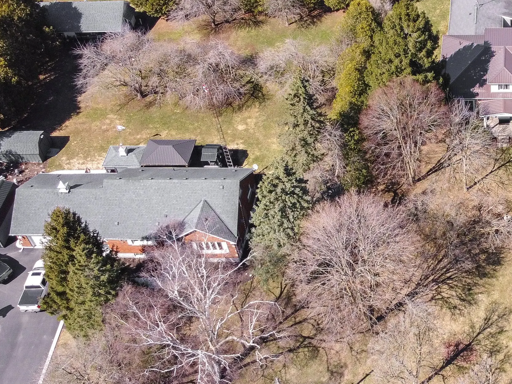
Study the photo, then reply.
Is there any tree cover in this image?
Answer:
Yes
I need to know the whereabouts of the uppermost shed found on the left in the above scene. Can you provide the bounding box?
[45,0,139,46]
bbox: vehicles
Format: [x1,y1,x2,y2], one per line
[0,263,13,287]
[13,262,51,314]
